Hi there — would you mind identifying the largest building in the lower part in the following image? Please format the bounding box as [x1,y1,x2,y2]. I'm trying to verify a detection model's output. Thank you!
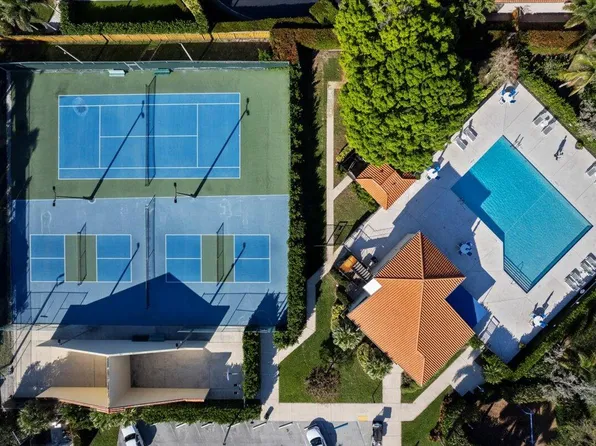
[347,231,476,388]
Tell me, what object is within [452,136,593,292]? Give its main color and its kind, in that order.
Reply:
blue swimming pool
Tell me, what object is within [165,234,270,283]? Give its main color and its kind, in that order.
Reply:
blue sports court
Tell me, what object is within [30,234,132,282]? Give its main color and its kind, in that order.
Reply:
blue sports court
